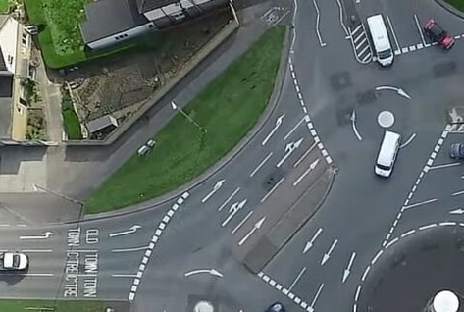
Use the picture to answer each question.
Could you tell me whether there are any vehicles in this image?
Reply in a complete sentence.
Yes, you can see a vehicle in this photo.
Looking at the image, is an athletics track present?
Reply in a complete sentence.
No, no athletics track is visible in the view.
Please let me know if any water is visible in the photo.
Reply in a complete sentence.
No, water can't be seen anywhere here.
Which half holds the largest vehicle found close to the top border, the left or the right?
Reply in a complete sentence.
The largest vehicle found close to the top border is on the right side of the image.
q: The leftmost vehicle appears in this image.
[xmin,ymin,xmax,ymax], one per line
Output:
[0,252,33,270]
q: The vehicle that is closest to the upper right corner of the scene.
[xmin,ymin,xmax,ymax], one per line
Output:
[425,19,455,50]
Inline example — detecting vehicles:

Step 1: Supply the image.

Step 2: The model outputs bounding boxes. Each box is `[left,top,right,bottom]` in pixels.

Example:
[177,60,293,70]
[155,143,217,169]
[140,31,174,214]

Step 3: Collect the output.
[368,11,395,71]
[450,141,464,159]
[425,19,455,50]
[374,132,400,180]
[0,252,33,270]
